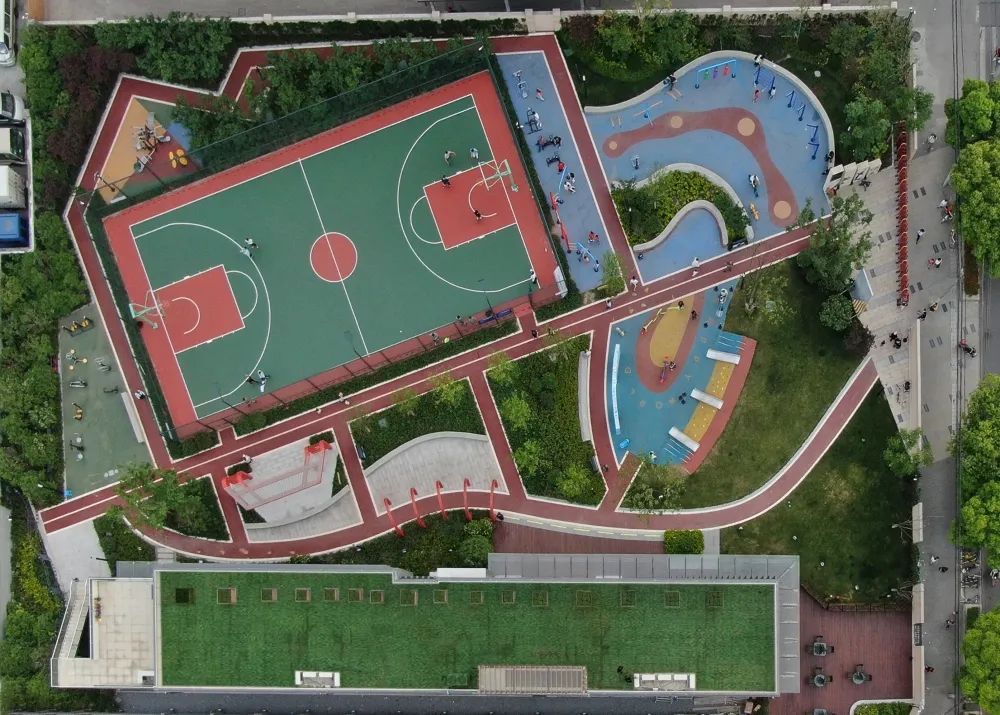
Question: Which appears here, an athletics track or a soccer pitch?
athletics track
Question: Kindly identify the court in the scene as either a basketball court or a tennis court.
basketball court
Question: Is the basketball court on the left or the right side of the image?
left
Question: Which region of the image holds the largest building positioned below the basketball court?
bottom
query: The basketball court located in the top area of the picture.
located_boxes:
[104,71,565,442]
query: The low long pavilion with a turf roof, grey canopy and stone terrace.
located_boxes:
[53,554,801,701]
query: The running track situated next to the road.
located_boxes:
[36,32,880,563]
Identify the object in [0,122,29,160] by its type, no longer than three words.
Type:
truck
